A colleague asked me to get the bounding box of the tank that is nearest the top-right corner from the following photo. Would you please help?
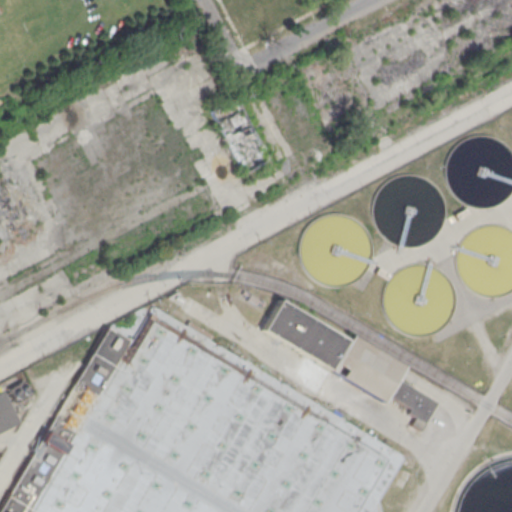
[443,133,512,209]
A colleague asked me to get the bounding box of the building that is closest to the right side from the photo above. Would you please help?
[394,384,440,430]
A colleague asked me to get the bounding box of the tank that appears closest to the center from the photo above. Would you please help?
[297,212,378,288]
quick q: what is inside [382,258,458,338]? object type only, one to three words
storage tank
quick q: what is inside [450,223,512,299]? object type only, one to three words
storage tank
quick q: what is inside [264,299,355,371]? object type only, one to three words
building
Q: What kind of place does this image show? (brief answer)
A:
industrial area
